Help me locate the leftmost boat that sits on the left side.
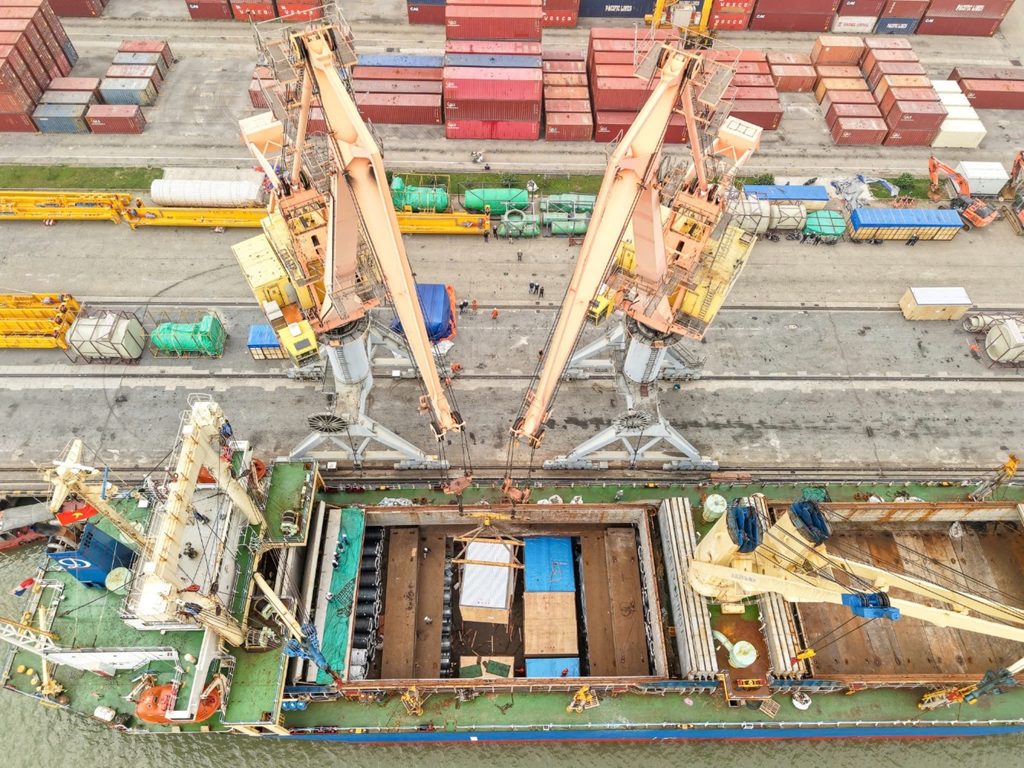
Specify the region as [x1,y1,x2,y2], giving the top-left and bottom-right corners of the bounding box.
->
[0,485,80,563]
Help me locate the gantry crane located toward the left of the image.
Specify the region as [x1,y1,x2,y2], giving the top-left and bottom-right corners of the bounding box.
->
[231,0,479,500]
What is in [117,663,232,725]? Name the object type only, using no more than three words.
boat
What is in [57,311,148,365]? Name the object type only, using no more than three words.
storage tank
